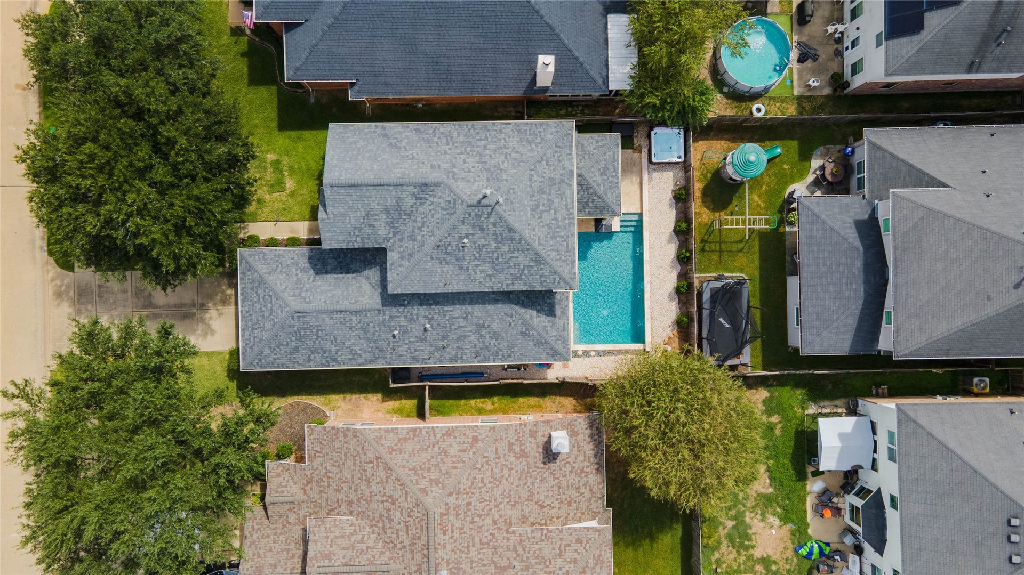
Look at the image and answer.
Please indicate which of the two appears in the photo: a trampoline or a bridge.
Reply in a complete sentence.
I can see a trampoline in this picture.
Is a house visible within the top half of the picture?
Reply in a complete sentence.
Yes, a house shows up within the top half of the picture.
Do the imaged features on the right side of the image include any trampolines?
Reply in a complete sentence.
Yes, a trampoline is visible on the right side of the image.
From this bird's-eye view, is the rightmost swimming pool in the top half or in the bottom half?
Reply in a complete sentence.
The rightmost swimming pool is in the top half of the image.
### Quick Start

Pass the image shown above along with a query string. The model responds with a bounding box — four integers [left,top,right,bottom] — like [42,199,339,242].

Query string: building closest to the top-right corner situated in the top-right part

[844,0,1024,93]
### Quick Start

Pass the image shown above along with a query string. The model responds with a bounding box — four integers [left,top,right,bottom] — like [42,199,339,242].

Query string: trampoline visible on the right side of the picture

[699,279,765,367]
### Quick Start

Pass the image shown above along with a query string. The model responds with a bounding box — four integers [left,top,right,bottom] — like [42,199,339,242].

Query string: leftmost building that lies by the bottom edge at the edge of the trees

[232,413,615,575]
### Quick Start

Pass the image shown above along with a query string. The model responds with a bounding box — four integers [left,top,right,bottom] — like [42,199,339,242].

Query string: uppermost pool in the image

[712,15,792,94]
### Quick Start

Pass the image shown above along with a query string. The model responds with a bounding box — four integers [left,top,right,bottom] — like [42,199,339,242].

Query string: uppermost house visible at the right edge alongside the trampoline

[788,123,1024,361]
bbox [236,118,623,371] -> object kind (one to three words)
house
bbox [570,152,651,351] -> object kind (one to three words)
swimming pool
